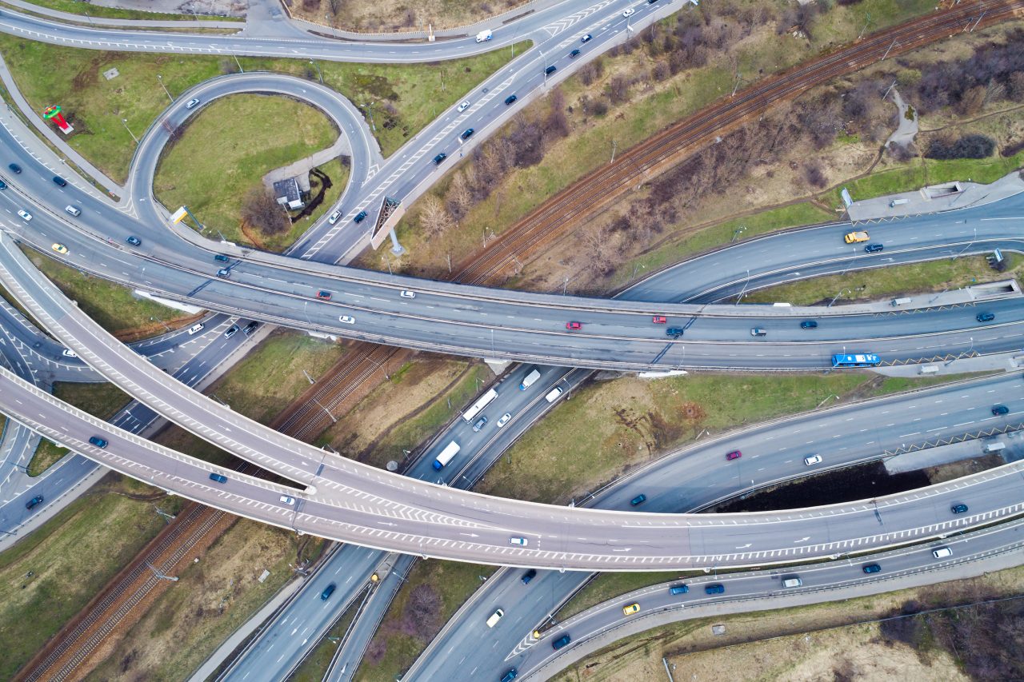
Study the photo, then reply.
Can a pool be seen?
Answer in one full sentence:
No, there's no pool here.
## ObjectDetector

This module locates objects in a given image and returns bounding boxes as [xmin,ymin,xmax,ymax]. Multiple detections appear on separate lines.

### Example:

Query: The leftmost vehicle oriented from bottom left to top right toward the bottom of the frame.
[25,494,44,511]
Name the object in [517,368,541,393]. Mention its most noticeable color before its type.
white truck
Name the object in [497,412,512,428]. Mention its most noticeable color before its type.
white car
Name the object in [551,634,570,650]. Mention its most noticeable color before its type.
blue car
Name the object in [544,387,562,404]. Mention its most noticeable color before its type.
white vehicle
